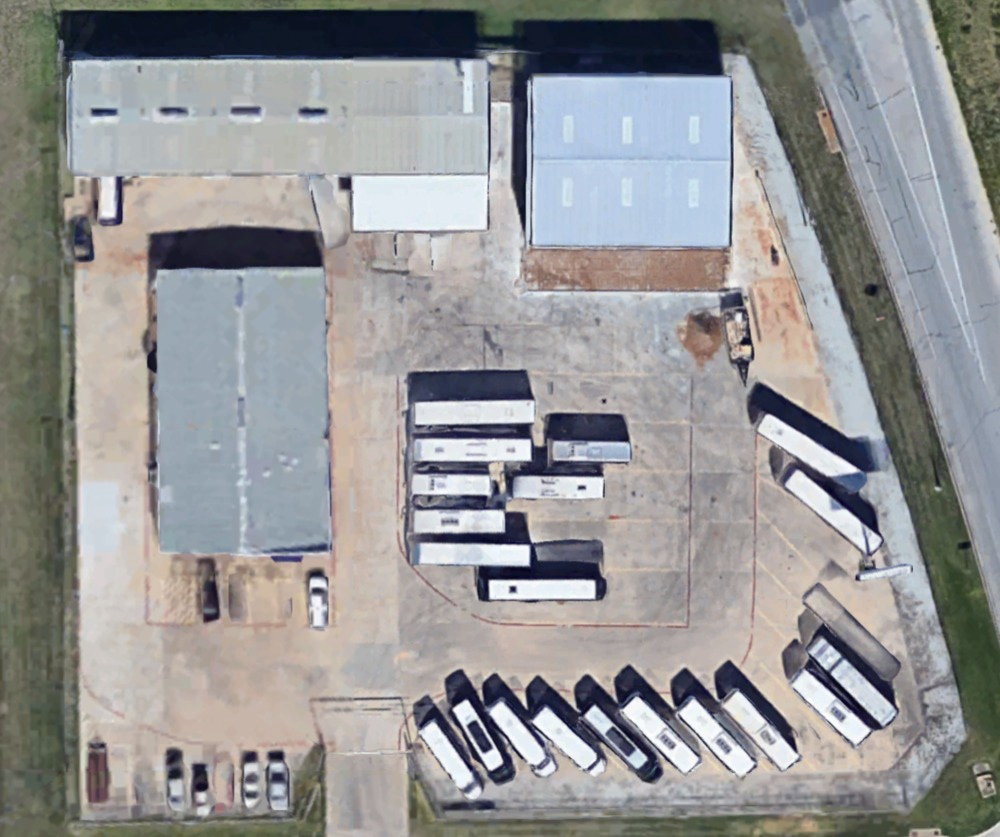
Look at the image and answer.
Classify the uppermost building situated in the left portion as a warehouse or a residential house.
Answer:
warehouse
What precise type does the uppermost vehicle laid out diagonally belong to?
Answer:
bus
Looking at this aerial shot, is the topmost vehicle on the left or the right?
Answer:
left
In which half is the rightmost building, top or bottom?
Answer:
top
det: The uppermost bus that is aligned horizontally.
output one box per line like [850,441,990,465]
[410,400,535,430]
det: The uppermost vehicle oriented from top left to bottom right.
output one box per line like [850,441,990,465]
[753,414,866,500]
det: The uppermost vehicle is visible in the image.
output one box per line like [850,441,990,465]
[96,177,123,229]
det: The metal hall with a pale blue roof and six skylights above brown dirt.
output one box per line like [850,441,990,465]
[526,74,730,251]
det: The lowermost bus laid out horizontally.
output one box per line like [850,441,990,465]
[476,577,604,605]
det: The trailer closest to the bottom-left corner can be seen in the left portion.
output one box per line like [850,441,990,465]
[86,737,109,803]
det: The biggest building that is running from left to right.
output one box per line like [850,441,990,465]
[67,57,488,233]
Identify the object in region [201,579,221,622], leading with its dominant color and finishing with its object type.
black car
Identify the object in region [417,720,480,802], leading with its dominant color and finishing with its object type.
white vehicle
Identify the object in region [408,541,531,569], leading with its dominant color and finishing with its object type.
white bus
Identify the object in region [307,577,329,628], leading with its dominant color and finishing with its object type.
white truck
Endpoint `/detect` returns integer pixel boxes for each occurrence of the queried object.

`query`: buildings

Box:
[67,57,488,233]
[156,268,331,561]
[526,74,730,251]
